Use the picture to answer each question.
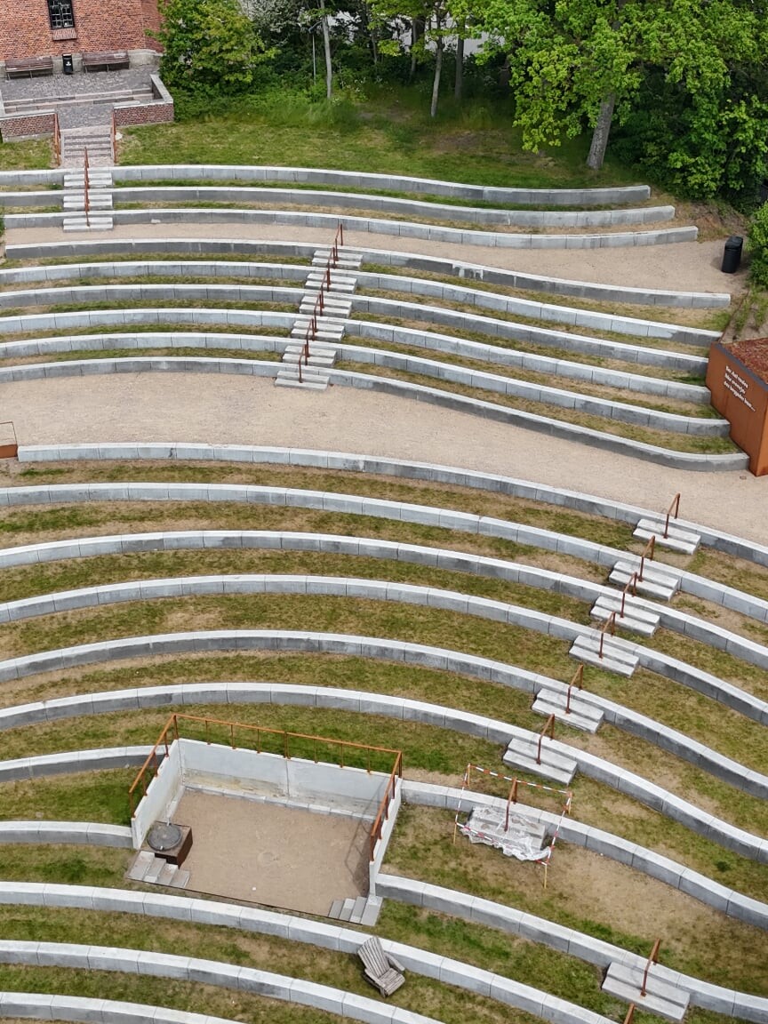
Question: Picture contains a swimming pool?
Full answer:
No, the frame has no swimming pool in it.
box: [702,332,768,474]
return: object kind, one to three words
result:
shed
